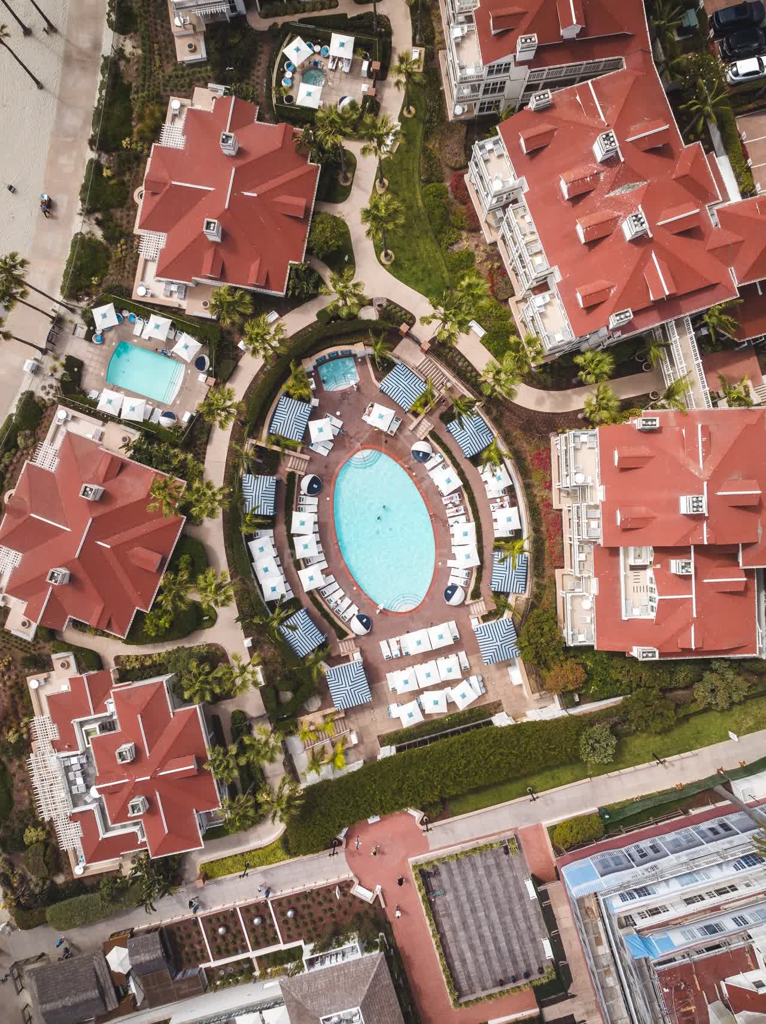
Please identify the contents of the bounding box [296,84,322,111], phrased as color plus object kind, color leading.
white umbrella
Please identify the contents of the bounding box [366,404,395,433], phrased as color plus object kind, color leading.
white umbrella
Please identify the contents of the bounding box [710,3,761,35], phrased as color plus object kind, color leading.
black car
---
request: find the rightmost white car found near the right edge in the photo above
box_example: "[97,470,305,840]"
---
[725,57,766,86]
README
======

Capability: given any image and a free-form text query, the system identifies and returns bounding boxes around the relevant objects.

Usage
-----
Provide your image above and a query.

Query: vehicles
[725,57,766,86]
[719,36,766,65]
[710,3,761,35]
